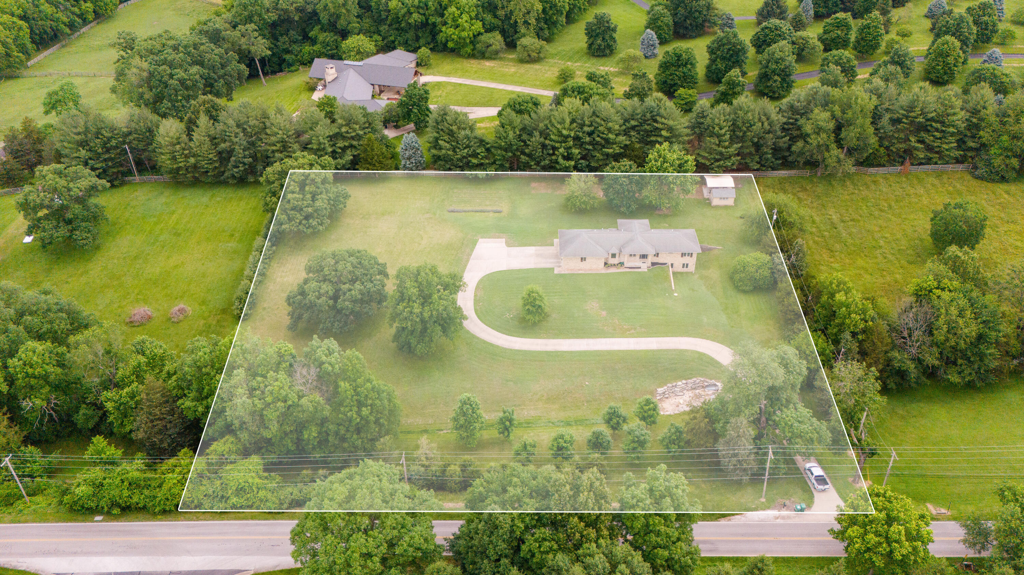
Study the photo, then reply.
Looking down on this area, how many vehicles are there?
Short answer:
1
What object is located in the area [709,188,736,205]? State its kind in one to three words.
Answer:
shed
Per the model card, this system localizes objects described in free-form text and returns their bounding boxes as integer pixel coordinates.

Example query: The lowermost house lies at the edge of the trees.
[557,219,702,274]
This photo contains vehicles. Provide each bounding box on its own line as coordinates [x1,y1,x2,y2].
[804,461,830,491]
